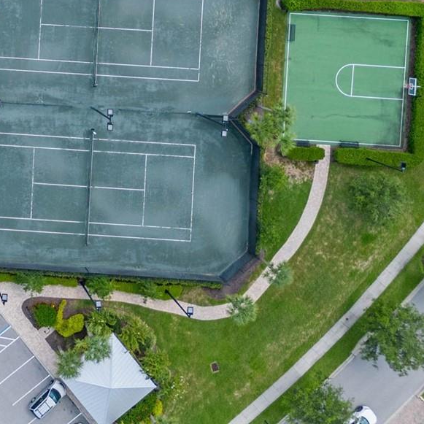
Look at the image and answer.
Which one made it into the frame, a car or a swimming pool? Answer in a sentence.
Looking from above, you can make out a car.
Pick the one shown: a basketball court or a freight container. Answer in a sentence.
I can see a basketball court in this picture.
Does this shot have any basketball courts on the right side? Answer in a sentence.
Yes, a basketball court shows up on the right side.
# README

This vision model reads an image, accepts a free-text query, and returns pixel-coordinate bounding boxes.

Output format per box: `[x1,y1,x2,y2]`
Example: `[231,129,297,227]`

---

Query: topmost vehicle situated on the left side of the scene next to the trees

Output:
[28,383,67,422]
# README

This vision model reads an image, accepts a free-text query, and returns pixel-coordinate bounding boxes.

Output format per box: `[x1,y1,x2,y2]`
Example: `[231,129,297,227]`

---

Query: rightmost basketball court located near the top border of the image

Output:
[282,11,411,148]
